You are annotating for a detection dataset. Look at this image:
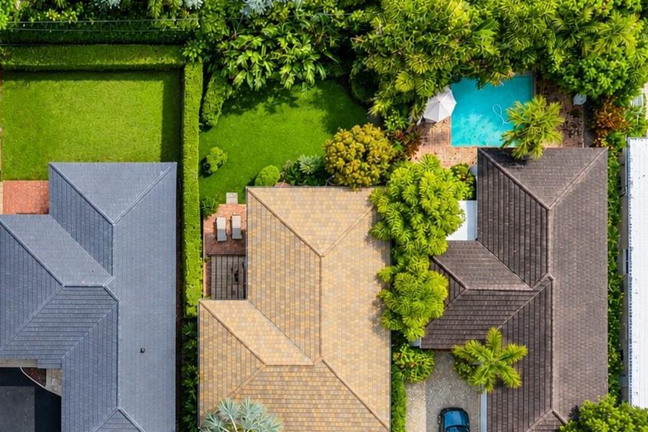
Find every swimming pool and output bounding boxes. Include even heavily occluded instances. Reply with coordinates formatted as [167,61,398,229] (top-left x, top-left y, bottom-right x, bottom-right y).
[450,72,535,148]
